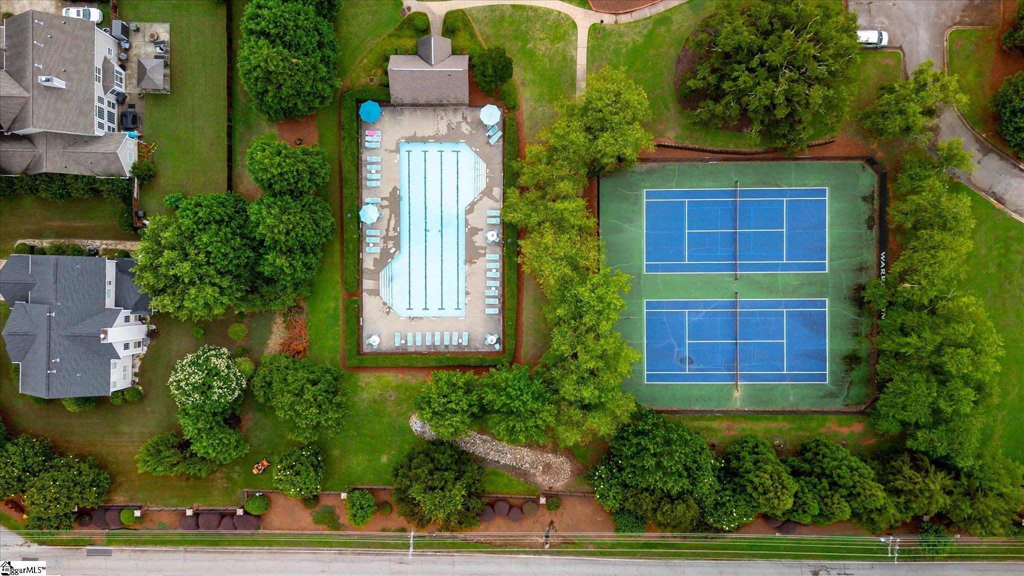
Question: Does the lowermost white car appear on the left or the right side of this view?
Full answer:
You can find the lowermost white car on the right side of the picture.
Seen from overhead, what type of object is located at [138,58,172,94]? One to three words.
gazebo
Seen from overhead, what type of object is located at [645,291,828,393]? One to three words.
tennis court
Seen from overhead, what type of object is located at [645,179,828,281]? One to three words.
tennis court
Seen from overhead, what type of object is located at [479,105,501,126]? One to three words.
umbrella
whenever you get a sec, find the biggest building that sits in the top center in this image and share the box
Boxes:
[386,32,469,105]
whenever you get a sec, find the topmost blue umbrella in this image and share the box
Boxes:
[359,101,382,124]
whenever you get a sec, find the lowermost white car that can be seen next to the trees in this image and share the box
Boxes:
[847,29,888,49]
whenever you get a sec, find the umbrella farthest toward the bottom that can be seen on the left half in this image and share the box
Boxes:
[360,205,380,224]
